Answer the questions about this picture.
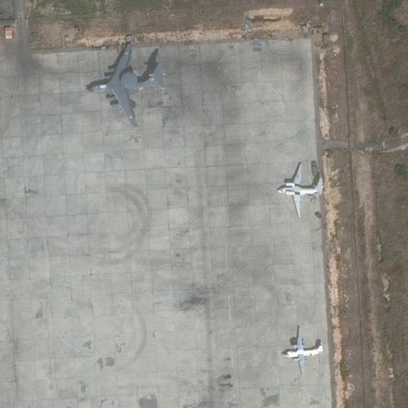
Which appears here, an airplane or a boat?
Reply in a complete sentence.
I can see an airplane in this picture.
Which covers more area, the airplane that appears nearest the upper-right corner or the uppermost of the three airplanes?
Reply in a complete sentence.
Of the two, the uppermost of the three airplanes is larger and the airplane that appears nearest the upper-right corner is the smaller one.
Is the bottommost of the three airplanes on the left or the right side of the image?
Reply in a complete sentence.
The bottommost of the three airplanes is on the right side of the image.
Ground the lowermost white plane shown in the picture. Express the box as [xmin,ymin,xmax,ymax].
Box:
[282,329,323,379]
